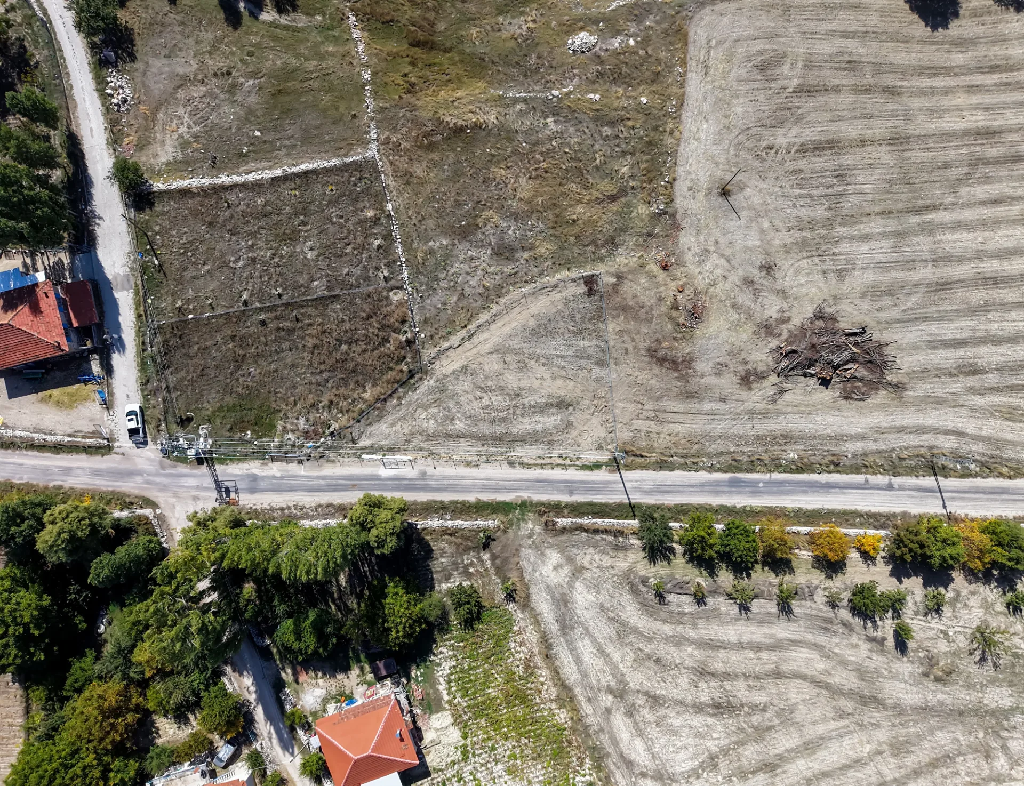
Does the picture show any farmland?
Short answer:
Yes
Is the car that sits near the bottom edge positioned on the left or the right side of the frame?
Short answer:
left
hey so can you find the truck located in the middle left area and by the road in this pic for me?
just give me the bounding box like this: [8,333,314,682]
[125,403,147,444]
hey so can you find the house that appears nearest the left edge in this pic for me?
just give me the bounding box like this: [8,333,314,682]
[0,280,79,372]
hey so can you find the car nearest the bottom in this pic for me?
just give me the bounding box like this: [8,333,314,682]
[214,736,238,768]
